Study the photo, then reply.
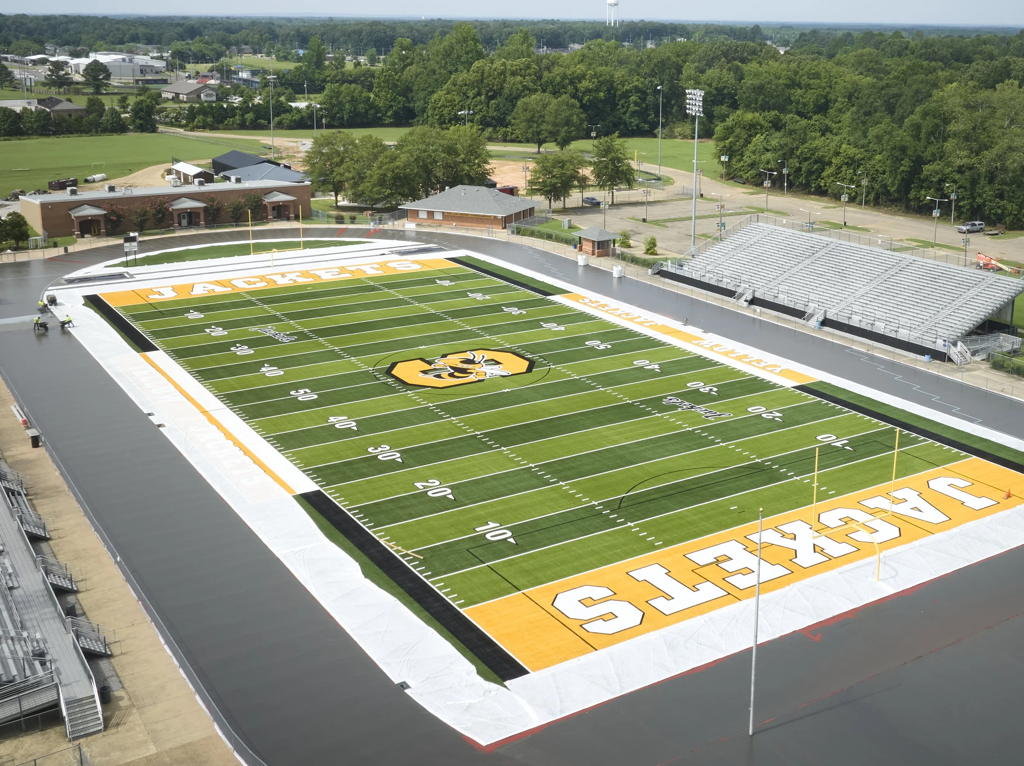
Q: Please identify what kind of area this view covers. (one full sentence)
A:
What you see here is a sports ground.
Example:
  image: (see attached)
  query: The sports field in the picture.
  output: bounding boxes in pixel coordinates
[83,253,1024,684]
